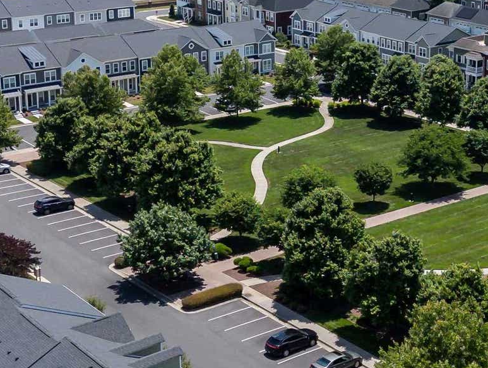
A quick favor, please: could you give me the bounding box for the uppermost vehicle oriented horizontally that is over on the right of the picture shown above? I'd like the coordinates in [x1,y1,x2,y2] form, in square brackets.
[264,329,322,359]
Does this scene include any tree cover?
Yes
